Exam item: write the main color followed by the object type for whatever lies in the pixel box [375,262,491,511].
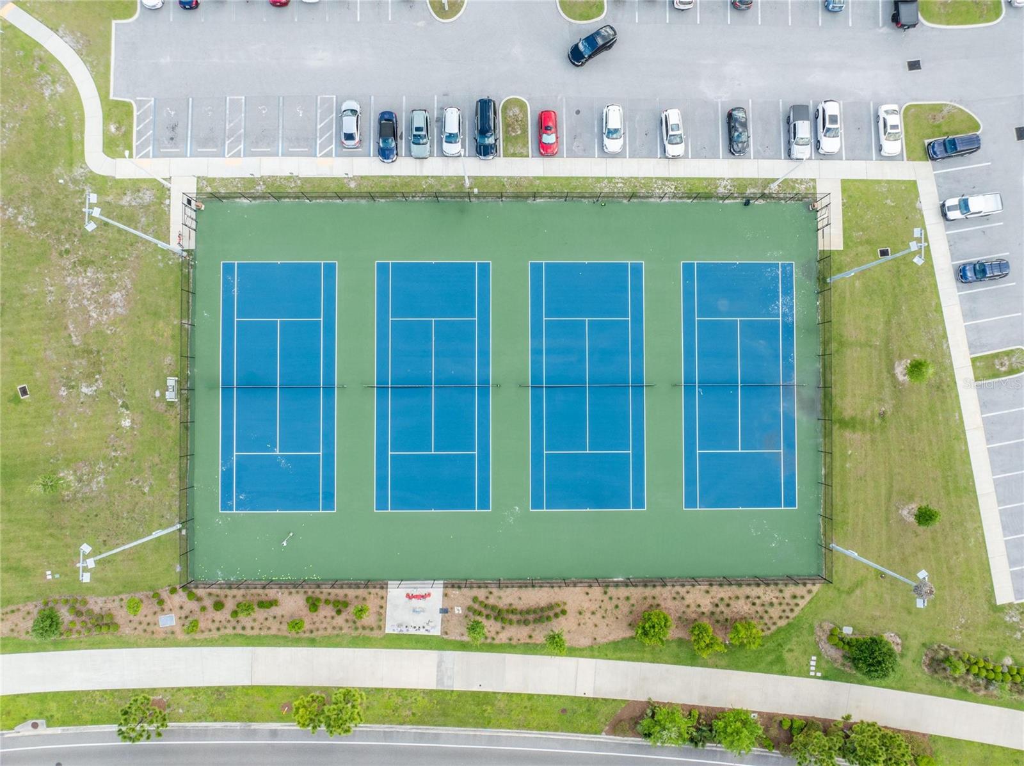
blue tennis court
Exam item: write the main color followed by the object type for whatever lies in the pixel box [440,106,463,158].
white car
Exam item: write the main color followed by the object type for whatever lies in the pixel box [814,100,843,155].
white car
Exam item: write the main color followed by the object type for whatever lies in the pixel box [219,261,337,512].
blue tennis court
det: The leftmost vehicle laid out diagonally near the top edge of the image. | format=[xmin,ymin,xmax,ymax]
[567,24,619,68]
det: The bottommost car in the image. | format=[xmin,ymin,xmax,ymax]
[954,258,1011,284]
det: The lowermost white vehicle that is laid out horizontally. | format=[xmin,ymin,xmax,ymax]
[938,191,1006,222]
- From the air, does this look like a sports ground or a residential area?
sports ground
